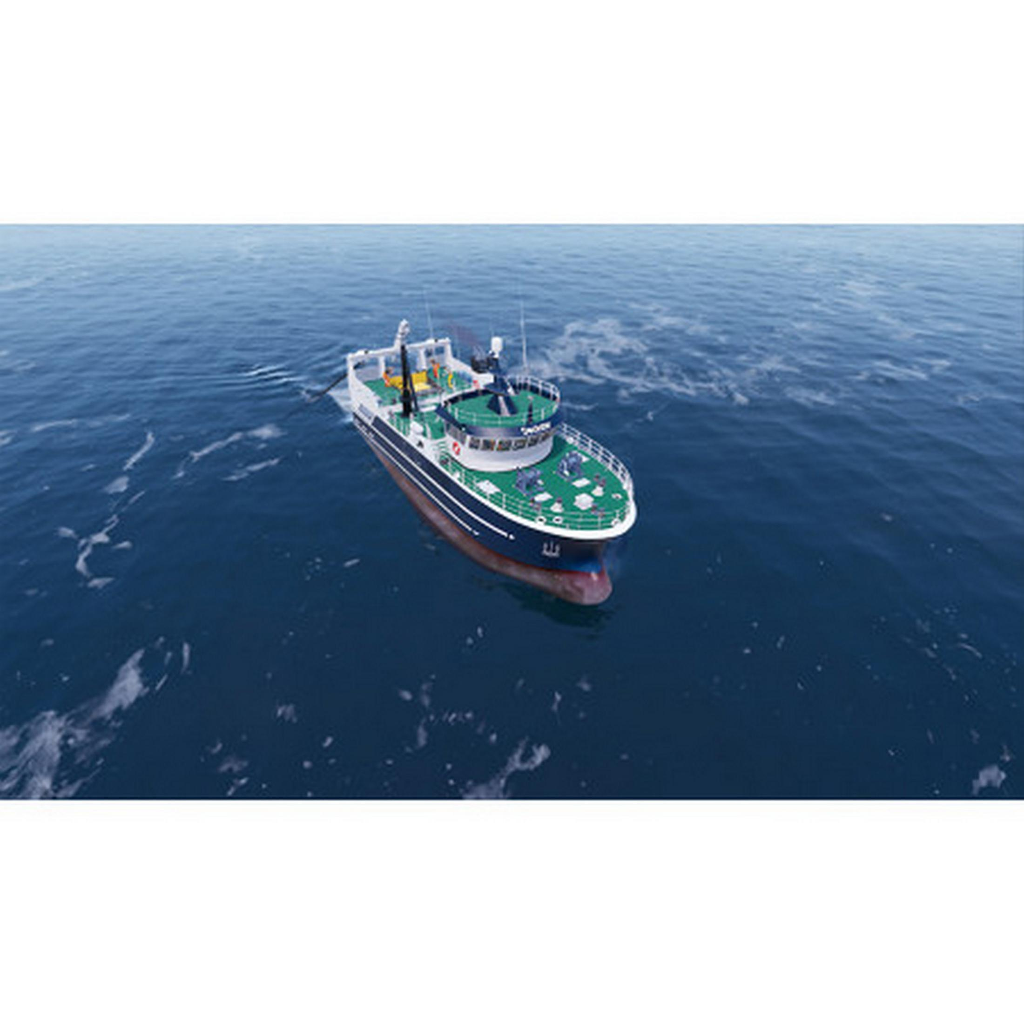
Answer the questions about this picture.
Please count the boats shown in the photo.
one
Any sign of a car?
No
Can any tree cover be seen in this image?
No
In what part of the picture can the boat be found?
center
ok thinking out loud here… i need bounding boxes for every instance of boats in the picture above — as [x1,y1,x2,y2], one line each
[346,293,640,603]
